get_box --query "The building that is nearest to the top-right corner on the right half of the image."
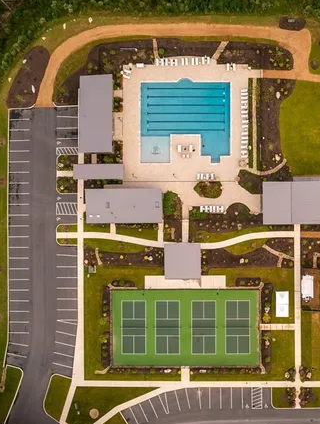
[262,181,320,225]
